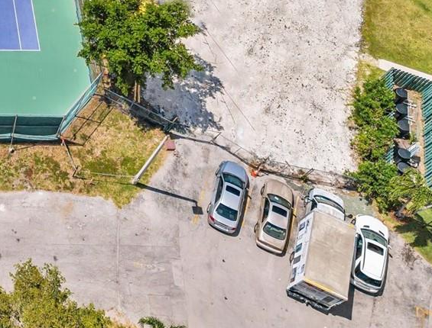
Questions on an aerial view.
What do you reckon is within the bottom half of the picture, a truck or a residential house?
truck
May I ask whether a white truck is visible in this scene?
Yes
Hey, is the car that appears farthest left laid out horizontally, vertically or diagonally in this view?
vertically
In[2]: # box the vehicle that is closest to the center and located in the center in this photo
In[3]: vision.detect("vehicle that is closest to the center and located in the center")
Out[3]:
[206,160,248,237]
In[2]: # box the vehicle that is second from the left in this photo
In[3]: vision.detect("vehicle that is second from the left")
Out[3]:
[253,175,296,256]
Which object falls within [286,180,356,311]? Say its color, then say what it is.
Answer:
white truck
